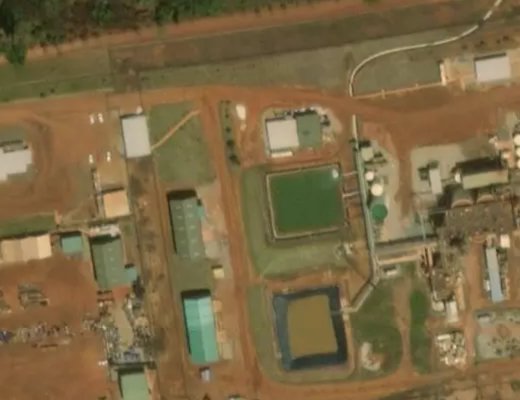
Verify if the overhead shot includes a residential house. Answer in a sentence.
Yes, looking at the shot, I can spot a residential house.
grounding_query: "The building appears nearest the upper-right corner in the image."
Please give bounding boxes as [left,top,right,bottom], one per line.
[475,56,510,82]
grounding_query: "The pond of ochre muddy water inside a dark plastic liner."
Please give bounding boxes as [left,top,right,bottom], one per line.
[272,285,348,372]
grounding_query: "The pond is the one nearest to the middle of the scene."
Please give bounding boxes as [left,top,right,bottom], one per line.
[268,163,347,238]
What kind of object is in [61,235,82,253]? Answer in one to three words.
shed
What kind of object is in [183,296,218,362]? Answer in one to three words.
building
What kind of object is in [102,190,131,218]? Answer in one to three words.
house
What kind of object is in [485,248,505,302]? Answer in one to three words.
shed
